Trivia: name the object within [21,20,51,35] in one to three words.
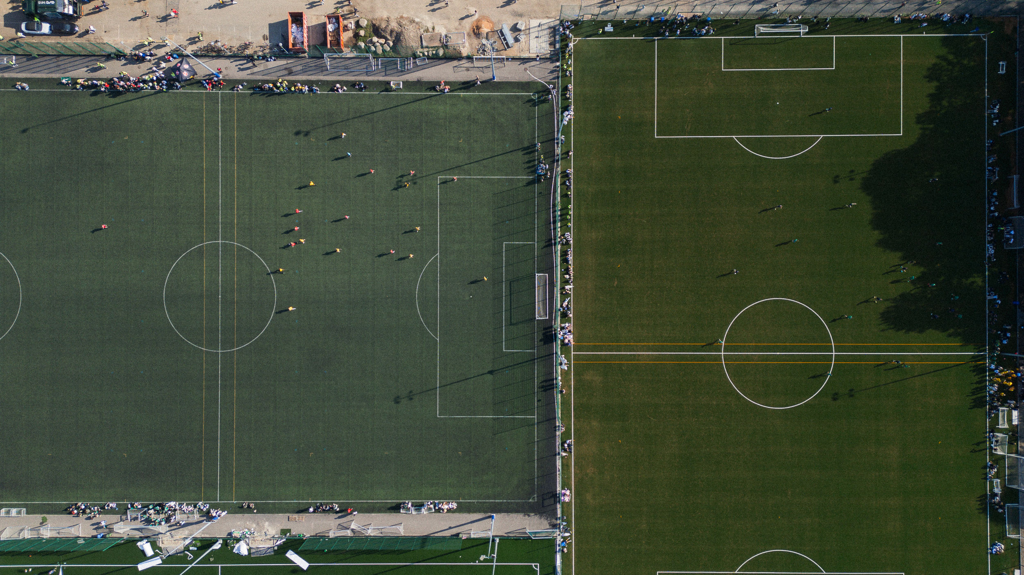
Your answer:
car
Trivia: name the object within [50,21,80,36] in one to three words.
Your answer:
car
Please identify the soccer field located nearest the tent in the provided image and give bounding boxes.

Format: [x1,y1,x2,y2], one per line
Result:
[0,78,556,514]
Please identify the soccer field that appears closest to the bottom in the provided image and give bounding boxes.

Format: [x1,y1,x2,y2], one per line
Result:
[0,539,556,575]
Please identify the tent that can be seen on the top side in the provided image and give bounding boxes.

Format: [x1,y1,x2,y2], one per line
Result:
[170,56,201,87]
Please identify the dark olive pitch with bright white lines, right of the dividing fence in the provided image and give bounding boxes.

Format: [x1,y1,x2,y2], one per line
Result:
[560,16,1021,575]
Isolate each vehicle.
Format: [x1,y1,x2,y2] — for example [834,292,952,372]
[25,0,92,18]
[21,20,51,35]
[50,21,80,36]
